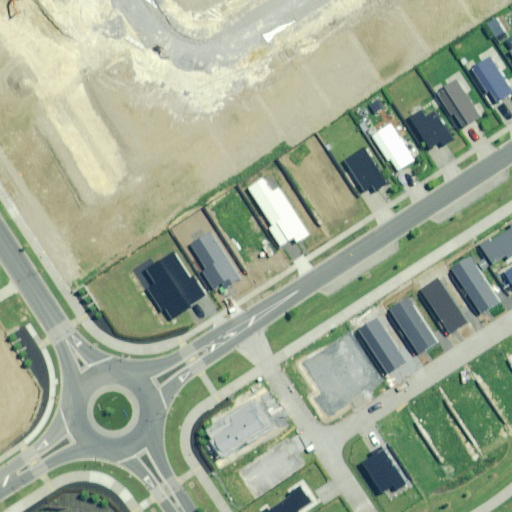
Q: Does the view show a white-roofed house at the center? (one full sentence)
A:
Yes, at the center there is a white-roofed house.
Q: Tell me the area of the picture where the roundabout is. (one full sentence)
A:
The roundabout sits in the bottom left section of the image.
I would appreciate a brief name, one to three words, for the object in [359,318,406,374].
house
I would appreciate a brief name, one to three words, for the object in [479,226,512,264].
house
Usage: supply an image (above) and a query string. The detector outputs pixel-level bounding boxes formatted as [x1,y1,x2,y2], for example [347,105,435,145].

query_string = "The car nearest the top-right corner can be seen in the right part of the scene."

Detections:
[498,103,511,119]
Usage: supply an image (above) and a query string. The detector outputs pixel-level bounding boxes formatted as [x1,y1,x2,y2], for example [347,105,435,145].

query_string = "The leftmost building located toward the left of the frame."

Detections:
[146,252,204,318]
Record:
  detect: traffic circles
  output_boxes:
[16,320,213,512]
